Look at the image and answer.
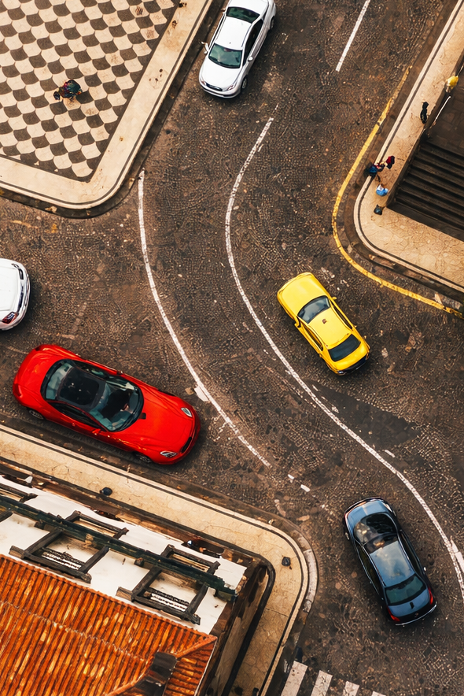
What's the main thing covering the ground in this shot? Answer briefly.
paved ground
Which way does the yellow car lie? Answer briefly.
at an angle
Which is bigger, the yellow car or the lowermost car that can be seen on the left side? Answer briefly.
the lowermost car that can be seen on the left side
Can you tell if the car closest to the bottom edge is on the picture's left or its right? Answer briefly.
right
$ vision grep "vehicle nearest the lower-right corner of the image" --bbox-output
[346,493,434,624]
